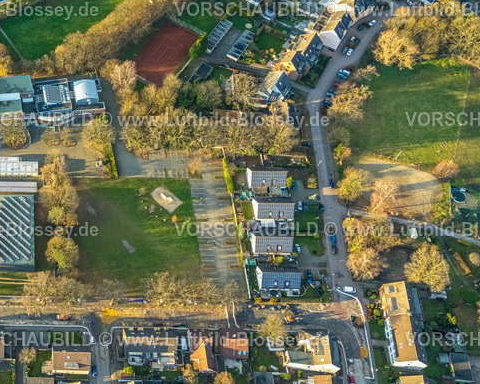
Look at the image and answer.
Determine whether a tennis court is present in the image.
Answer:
Yes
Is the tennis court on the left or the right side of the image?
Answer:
left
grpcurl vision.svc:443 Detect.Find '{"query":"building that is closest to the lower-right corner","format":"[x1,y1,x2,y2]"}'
[448,353,472,383]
